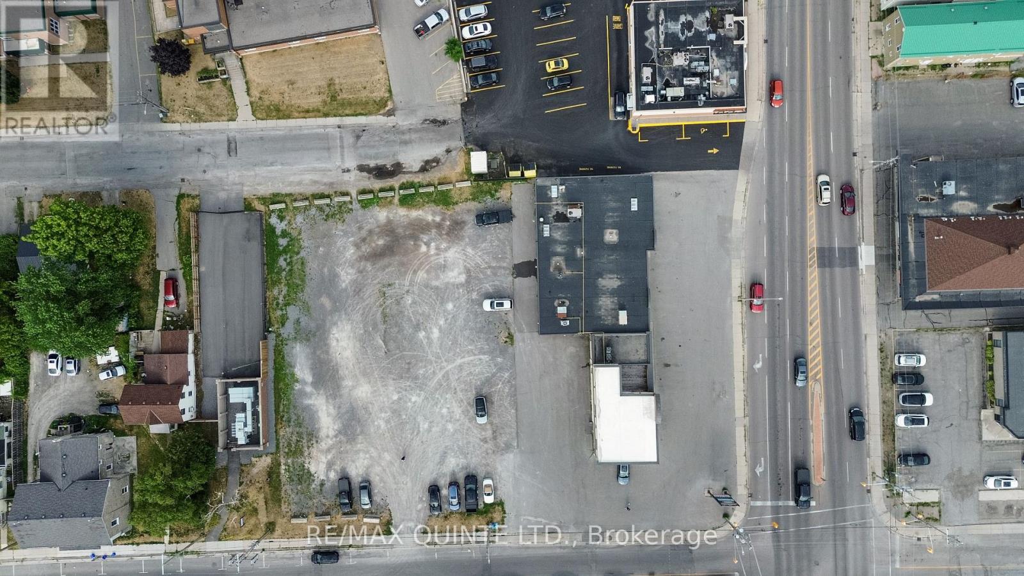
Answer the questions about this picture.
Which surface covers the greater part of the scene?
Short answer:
paved ground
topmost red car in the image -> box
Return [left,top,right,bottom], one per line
[768,79,785,108]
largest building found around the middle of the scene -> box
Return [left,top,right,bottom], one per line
[535,175,654,335]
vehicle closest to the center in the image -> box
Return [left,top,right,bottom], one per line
[482,298,512,312]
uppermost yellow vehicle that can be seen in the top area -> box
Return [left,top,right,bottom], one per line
[545,57,569,73]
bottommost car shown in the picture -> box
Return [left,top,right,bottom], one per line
[312,549,340,566]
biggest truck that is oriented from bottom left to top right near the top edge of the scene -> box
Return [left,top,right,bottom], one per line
[411,8,451,40]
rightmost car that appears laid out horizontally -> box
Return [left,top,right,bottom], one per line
[981,475,1018,491]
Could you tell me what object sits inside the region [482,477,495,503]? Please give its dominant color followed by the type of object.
white vehicle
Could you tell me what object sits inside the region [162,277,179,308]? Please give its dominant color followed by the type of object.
red car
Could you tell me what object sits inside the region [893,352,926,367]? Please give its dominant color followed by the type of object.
white car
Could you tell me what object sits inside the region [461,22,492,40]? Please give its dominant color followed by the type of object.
white car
